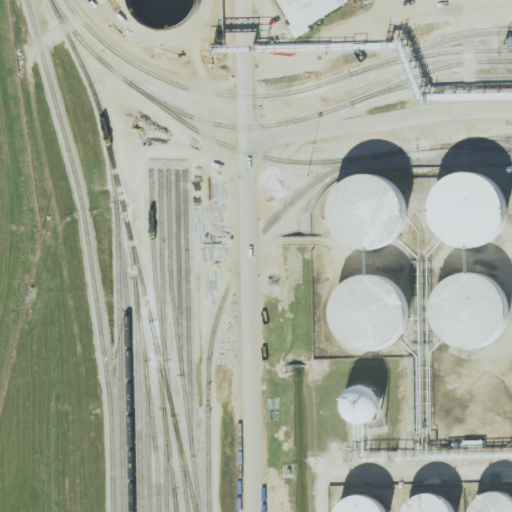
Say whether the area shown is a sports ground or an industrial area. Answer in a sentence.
What you see here is an industrial area.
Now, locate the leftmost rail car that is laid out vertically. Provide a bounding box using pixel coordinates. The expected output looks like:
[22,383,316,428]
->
[99,111,112,147]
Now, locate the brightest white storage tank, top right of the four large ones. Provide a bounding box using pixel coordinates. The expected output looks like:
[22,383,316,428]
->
[426,170,508,250]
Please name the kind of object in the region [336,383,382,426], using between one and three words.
storage tank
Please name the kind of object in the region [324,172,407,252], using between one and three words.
storage tank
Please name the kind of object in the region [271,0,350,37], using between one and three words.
building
